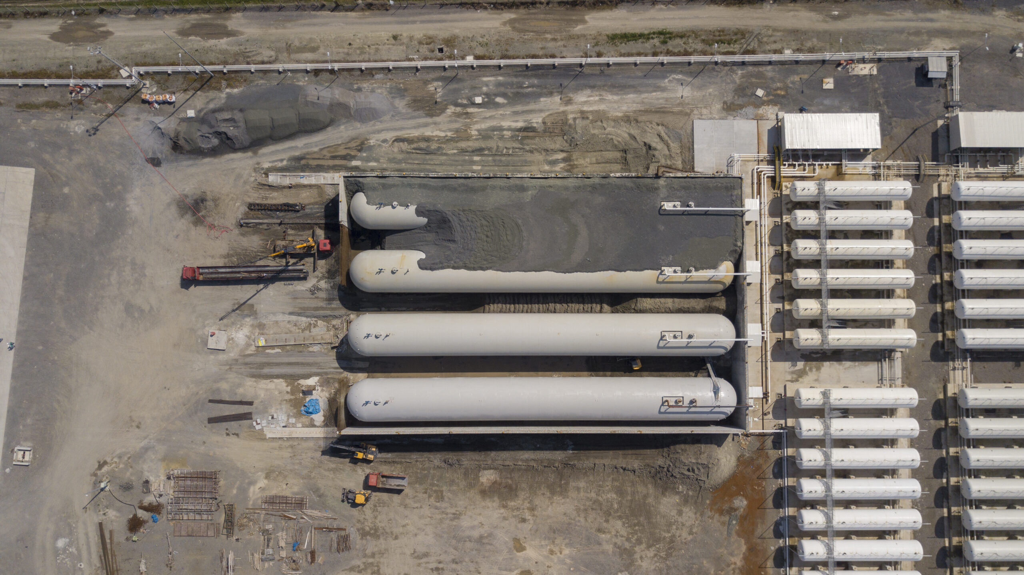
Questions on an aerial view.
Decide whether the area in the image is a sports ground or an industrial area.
industrial area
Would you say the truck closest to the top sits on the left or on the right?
left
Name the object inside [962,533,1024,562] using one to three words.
storage tank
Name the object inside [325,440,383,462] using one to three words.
work vehicle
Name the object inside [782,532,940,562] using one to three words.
storage tank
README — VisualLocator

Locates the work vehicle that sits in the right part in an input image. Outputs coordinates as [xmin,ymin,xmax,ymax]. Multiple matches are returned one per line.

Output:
[616,357,645,371]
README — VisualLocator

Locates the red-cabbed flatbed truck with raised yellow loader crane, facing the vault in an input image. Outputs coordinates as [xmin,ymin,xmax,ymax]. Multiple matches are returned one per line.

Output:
[236,227,333,271]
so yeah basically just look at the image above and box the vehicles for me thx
[236,227,333,271]
[367,471,409,491]
[339,489,374,504]
[325,440,383,462]
[616,357,645,371]
[180,265,305,282]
